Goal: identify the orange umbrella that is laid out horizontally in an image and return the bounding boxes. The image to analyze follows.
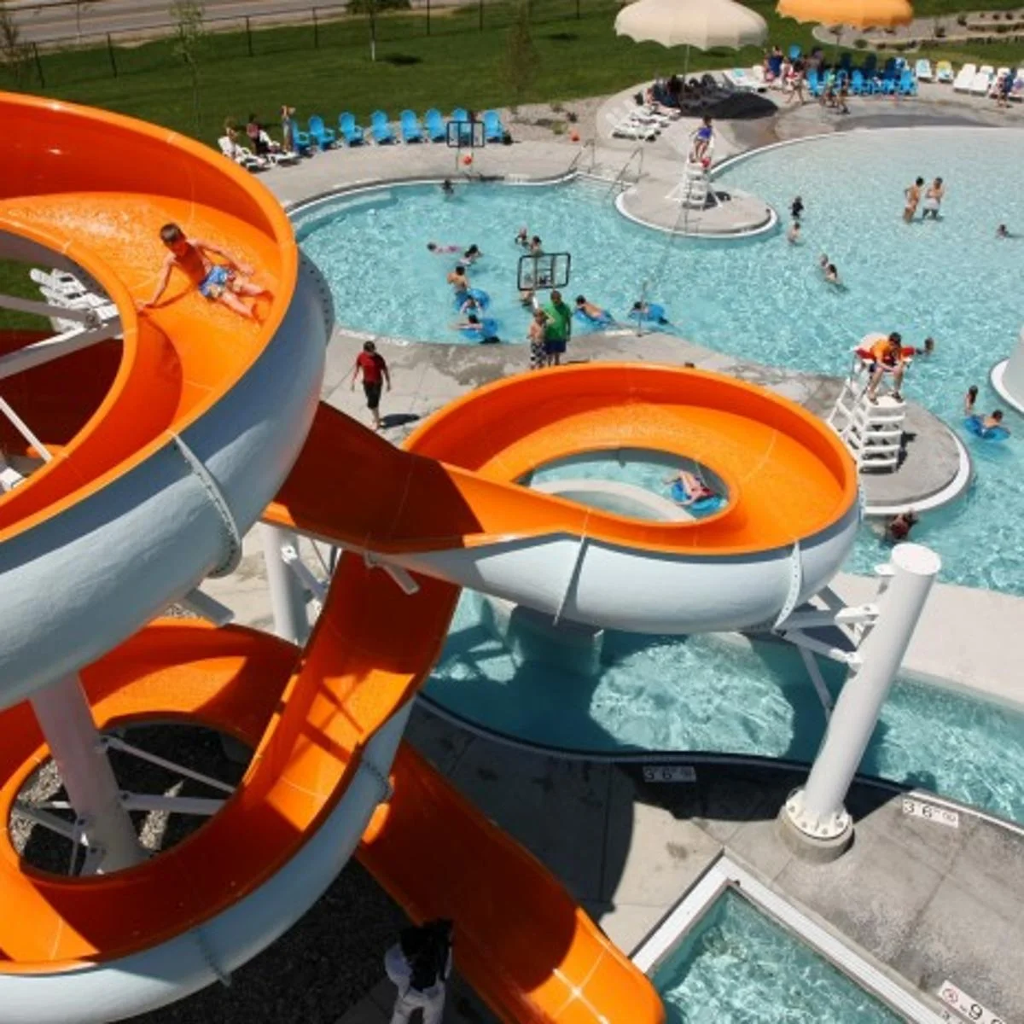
[778,0,921,63]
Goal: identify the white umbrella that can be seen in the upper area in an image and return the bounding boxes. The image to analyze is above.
[615,0,777,89]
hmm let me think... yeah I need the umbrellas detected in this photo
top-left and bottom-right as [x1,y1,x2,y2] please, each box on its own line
[615,0,777,89]
[778,0,921,63]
